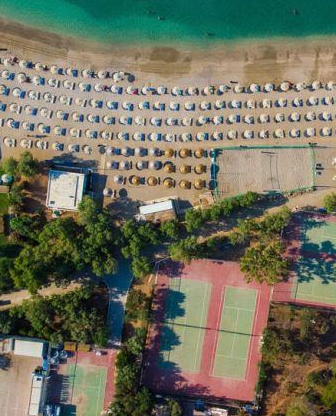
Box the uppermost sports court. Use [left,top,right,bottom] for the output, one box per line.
[216,147,314,202]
